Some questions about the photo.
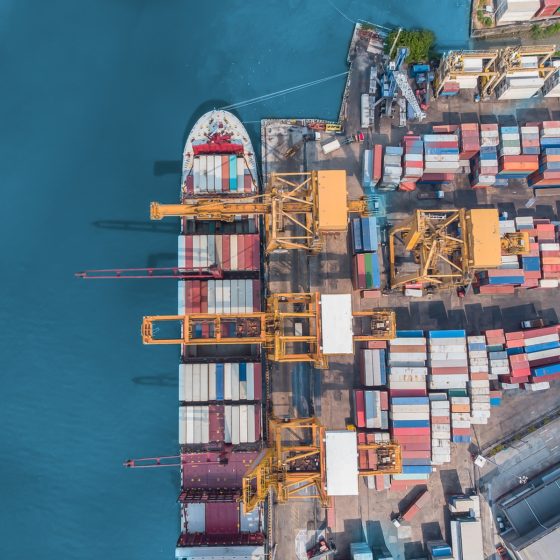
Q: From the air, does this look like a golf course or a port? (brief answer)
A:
port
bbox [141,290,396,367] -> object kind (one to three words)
container crane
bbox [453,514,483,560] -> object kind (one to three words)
building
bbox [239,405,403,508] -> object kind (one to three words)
container crane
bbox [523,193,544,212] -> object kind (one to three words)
vehicle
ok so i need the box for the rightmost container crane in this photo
[488,44,560,101]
